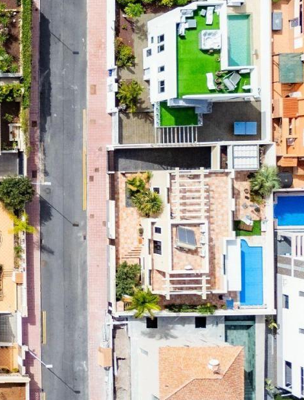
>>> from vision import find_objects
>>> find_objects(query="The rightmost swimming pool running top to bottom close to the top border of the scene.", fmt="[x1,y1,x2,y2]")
[227,13,251,67]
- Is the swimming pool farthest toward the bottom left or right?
right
